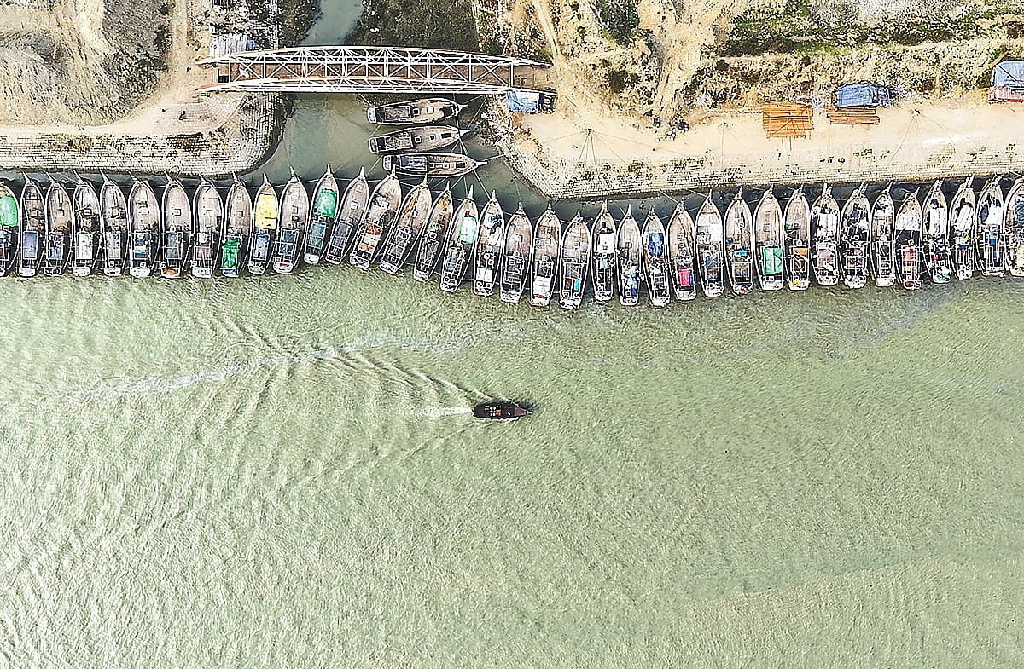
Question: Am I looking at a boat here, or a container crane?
boat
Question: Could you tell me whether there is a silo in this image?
No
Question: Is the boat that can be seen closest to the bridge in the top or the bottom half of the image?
top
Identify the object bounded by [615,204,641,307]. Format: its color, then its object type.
white boat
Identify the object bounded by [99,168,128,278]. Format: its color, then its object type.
white boat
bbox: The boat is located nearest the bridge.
[368,100,467,127]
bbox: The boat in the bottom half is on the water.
[472,403,532,421]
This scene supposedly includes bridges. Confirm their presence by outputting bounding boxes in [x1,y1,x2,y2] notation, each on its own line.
[192,46,560,93]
